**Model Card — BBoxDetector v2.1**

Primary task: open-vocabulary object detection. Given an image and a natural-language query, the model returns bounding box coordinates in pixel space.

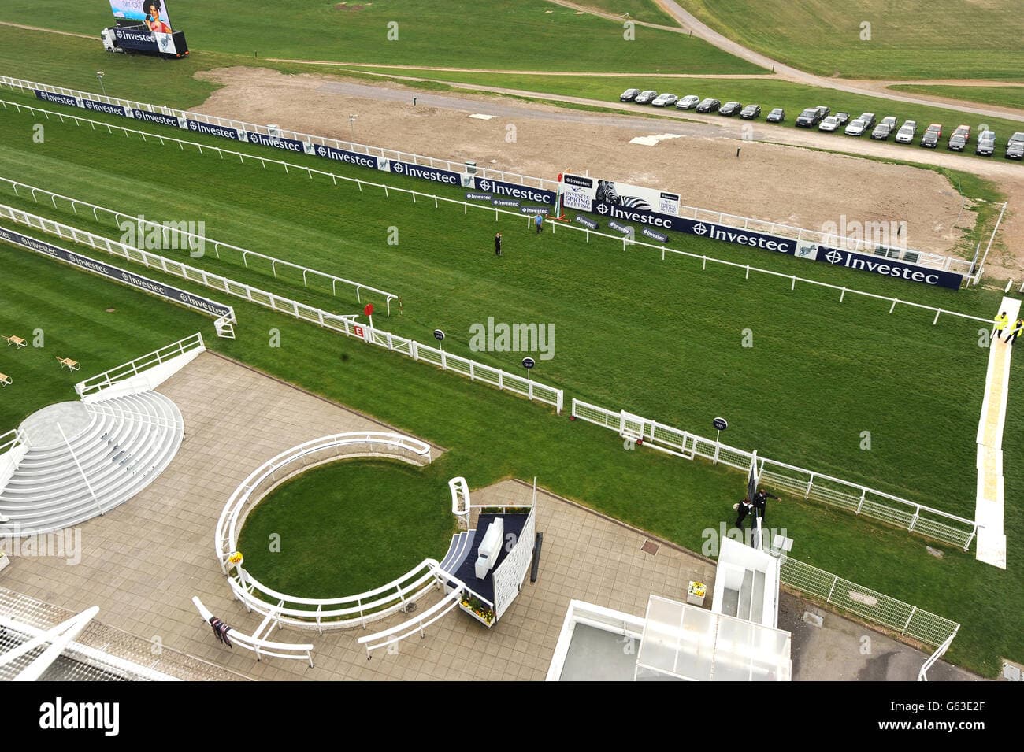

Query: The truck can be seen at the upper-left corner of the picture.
[103,25,189,56]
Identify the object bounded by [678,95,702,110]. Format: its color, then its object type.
white car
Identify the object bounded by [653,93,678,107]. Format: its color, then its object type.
white car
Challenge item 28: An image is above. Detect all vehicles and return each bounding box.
[885,114,906,133]
[697,98,721,114]
[906,116,926,134]
[622,87,646,101]
[920,130,942,149]
[894,125,917,145]
[844,120,867,138]
[871,122,892,141]
[945,133,969,153]
[740,104,763,121]
[819,115,843,133]
[103,25,189,56]
[823,102,841,119]
[1005,129,1024,143]
[768,107,789,124]
[980,122,1003,147]
[957,121,979,141]
[837,110,856,125]
[861,111,880,130]
[653,93,678,107]
[798,106,824,128]
[972,137,997,157]
[678,95,702,110]
[1002,140,1024,161]
[637,90,660,104]
[719,99,744,116]
[931,119,952,138]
